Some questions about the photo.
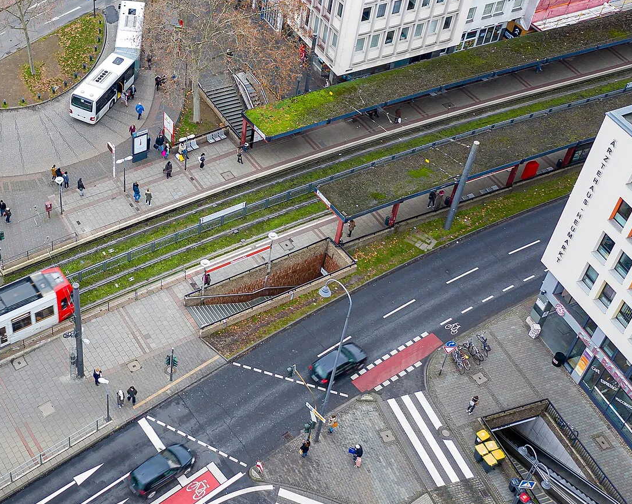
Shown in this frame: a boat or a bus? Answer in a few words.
bus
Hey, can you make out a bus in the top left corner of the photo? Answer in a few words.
Yes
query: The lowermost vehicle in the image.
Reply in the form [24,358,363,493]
[125,446,204,504]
